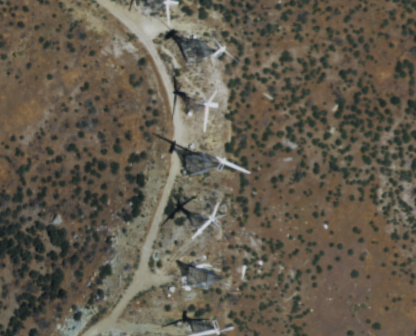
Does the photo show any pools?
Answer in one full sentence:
No, the photo shows no pool.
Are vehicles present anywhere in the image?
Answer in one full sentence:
No, there is no vehicle in the image.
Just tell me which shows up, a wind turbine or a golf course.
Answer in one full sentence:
This aerial view contains a wind turbine.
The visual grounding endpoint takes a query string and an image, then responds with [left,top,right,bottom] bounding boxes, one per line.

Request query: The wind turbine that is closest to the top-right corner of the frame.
[185,33,246,64]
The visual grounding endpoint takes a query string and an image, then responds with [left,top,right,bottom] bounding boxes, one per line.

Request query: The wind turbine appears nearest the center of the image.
[184,152,248,177]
